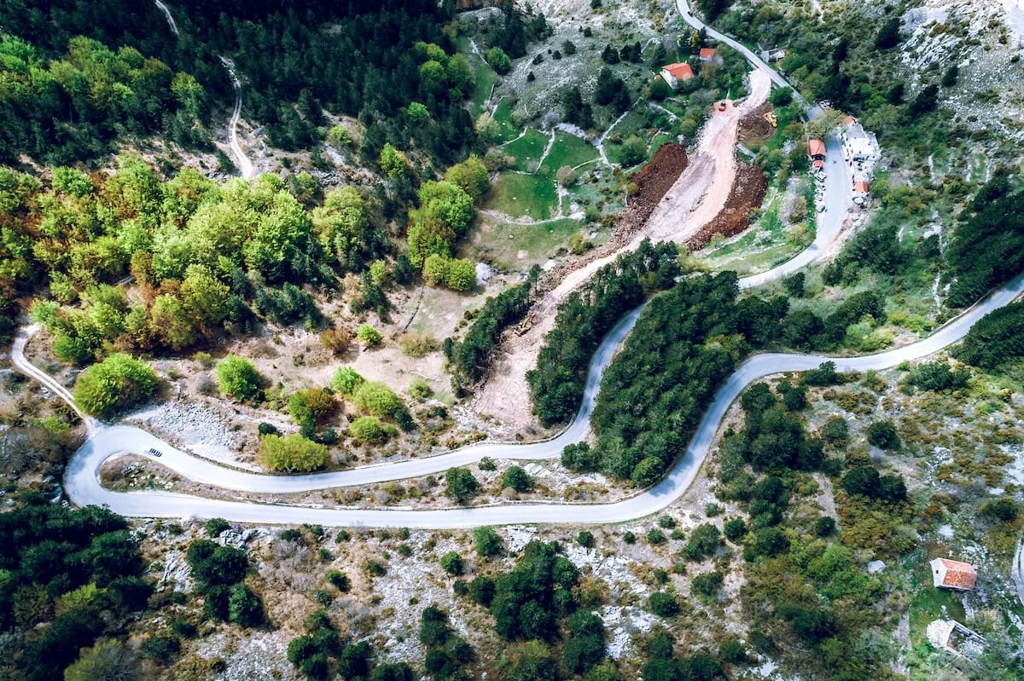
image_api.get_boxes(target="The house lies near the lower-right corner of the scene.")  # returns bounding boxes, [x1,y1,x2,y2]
[930,557,976,595]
